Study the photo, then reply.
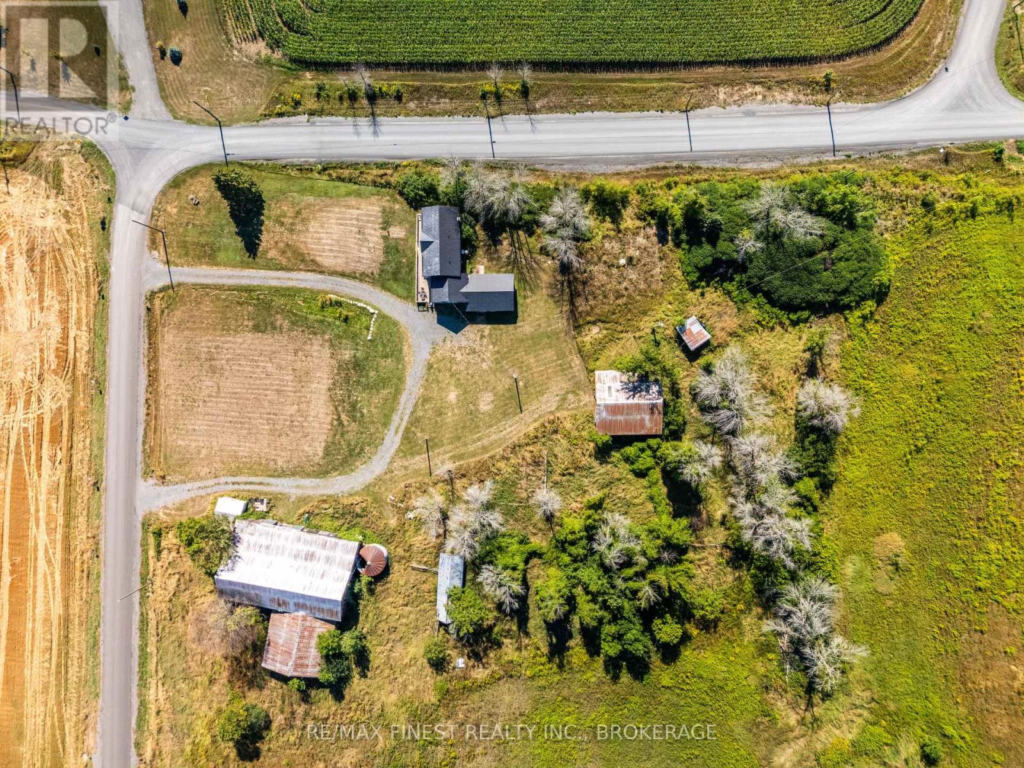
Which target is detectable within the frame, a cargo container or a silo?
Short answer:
silo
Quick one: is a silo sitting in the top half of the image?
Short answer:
No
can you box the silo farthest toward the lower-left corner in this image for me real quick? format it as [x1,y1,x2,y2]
[359,543,390,575]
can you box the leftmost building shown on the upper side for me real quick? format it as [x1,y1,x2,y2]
[415,203,515,312]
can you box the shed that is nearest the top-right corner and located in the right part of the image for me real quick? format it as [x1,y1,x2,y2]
[674,315,711,350]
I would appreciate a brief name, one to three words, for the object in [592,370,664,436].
barn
